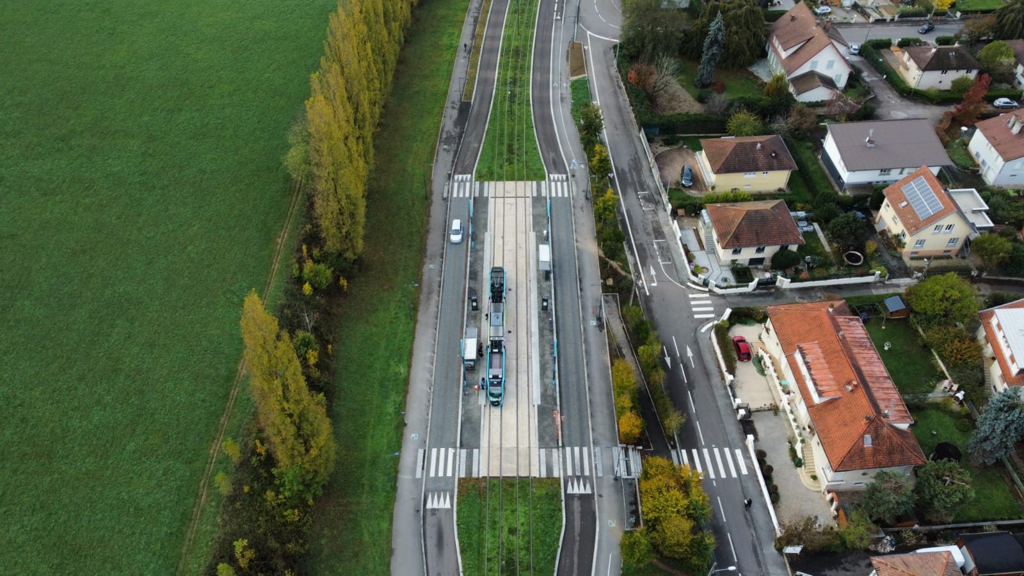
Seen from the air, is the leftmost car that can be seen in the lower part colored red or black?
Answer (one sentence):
The leftmost car that can be seen in the lower part is red.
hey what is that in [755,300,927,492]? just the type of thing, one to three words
house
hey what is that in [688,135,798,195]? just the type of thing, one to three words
house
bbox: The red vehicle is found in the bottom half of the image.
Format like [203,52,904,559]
[732,337,753,361]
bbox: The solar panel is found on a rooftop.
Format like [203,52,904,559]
[901,176,944,220]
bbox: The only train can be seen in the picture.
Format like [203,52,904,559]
[485,269,507,408]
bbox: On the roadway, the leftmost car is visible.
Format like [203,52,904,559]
[449,220,463,243]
